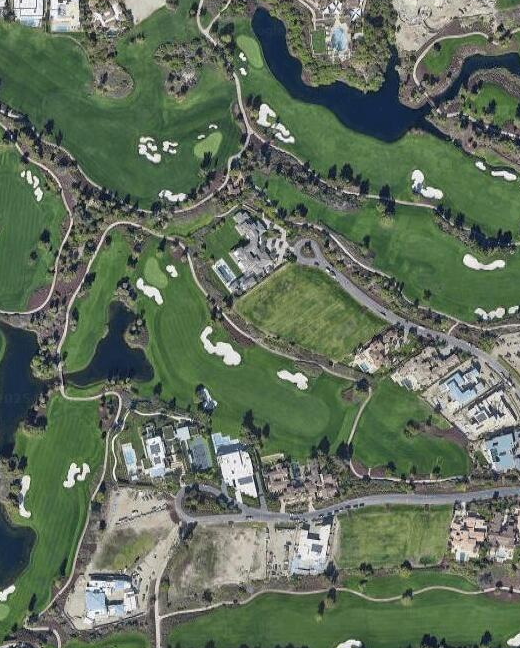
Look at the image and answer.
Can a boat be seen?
No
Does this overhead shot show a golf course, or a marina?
golf course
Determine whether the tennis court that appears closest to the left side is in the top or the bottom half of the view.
bottom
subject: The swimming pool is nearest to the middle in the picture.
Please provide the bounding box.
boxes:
[212,259,236,290]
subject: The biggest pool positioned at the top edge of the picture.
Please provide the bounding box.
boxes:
[330,27,346,52]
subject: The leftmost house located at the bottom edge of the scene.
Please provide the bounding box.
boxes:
[82,580,136,626]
